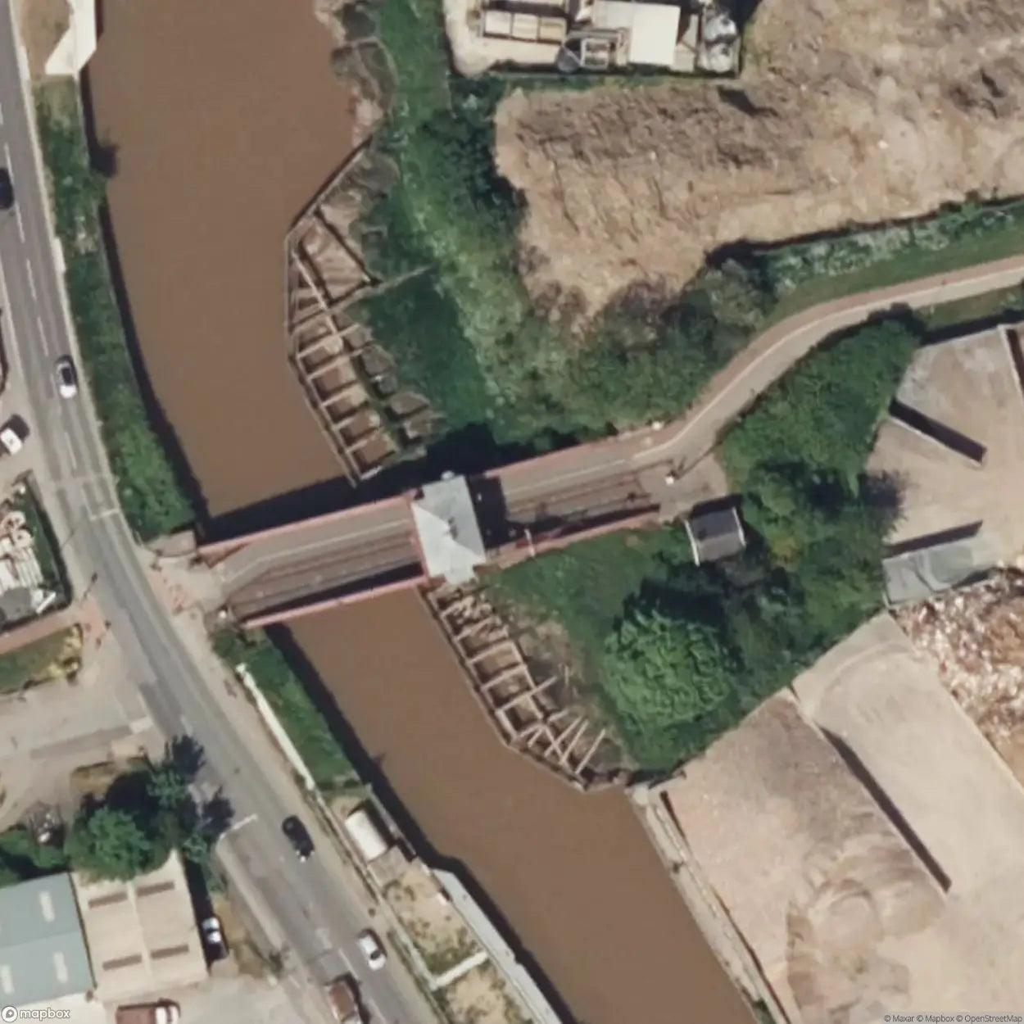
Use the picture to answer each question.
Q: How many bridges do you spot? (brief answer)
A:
1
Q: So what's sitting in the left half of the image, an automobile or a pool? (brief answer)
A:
automobile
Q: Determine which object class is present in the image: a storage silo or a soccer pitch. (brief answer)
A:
storage silo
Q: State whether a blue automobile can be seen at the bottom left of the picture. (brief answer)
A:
No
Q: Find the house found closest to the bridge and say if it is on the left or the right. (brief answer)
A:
right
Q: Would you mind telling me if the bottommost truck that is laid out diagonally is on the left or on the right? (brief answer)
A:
left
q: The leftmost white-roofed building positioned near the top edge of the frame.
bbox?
[592,0,634,29]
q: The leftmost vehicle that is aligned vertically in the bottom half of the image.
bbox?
[203,917,224,959]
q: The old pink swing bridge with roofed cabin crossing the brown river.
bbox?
[200,427,660,626]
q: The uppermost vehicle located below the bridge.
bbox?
[281,816,315,860]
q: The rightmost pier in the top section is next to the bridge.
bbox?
[285,134,444,489]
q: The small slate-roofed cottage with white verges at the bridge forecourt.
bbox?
[686,506,749,564]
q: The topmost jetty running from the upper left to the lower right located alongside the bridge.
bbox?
[417,582,626,793]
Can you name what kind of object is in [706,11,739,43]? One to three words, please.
silo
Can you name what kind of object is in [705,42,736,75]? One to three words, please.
silo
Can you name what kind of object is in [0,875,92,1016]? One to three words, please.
building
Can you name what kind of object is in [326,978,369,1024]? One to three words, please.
truck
